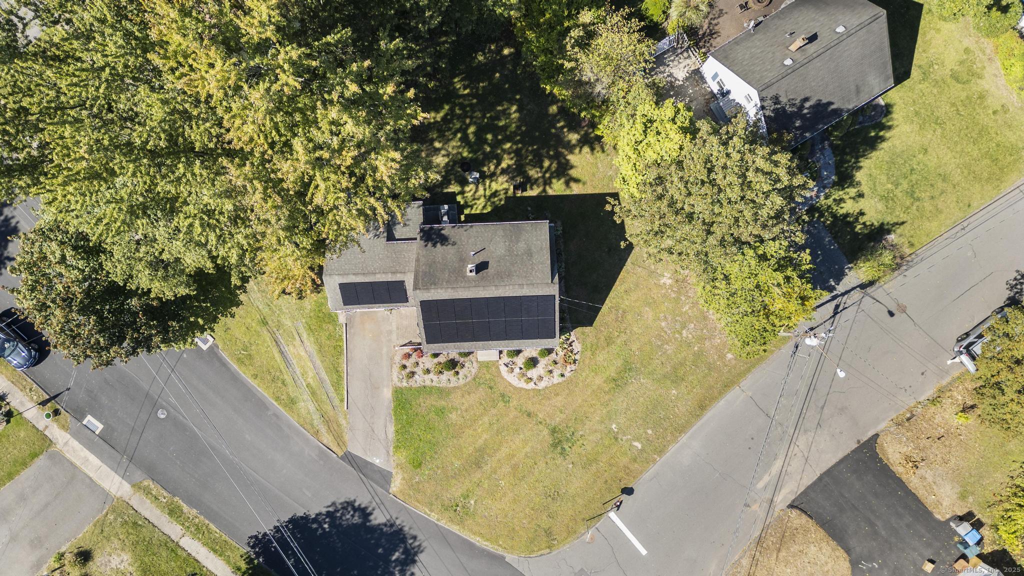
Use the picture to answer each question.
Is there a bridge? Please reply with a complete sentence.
No, no bridge can be seen from above.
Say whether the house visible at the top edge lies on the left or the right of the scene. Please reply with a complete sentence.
The house visible at the top edge appears in the right half of the scene.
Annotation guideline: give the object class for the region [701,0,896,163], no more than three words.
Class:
house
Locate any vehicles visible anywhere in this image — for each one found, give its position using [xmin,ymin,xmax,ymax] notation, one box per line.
[0,315,38,371]
[959,306,1024,372]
